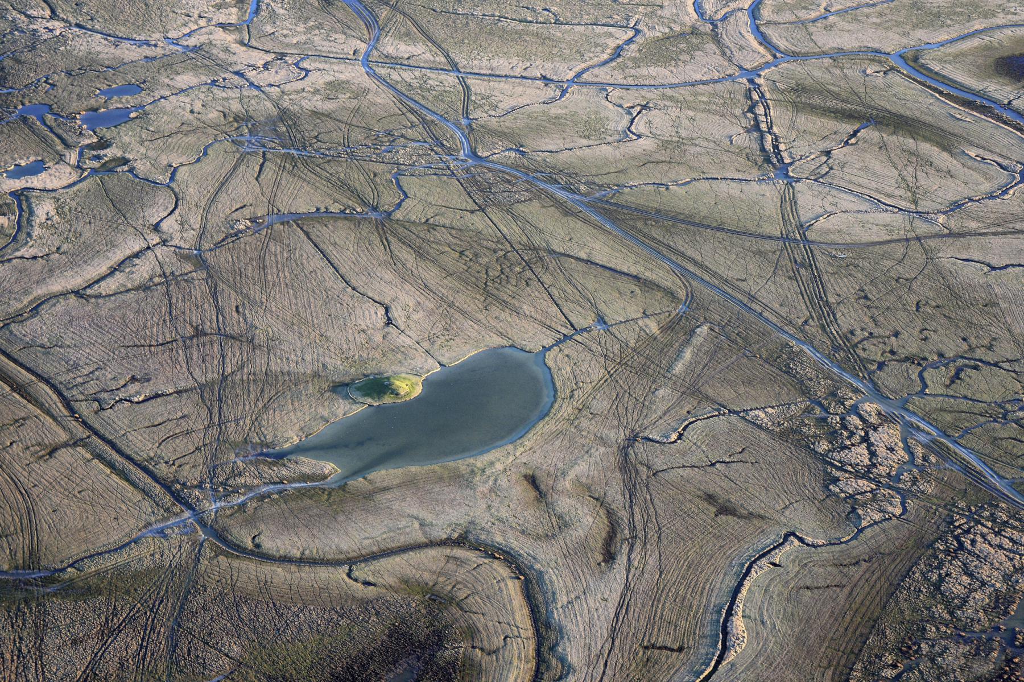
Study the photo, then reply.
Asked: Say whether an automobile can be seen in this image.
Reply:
No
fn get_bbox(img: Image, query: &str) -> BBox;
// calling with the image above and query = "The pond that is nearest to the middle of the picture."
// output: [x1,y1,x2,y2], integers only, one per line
[269,347,555,488]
